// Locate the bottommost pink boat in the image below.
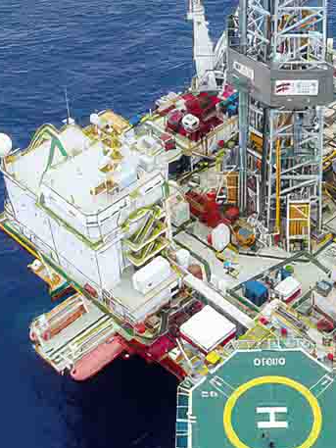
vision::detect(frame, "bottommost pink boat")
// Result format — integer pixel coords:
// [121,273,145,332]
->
[77,340,135,386]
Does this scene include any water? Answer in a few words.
Yes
